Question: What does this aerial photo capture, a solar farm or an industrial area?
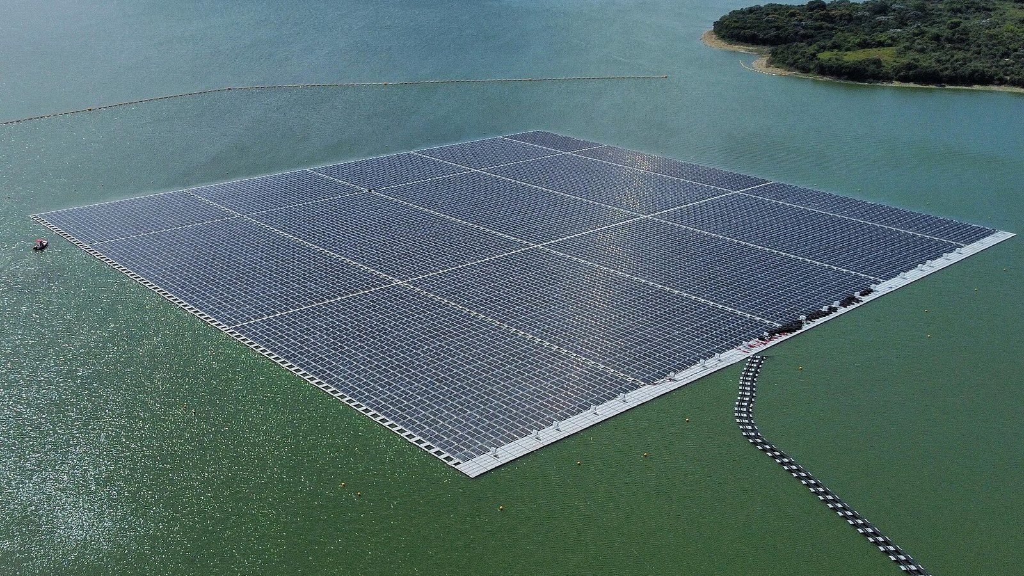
solar farm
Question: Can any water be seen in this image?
Yes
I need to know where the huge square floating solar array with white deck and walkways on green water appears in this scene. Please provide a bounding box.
[30,131,1016,479]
